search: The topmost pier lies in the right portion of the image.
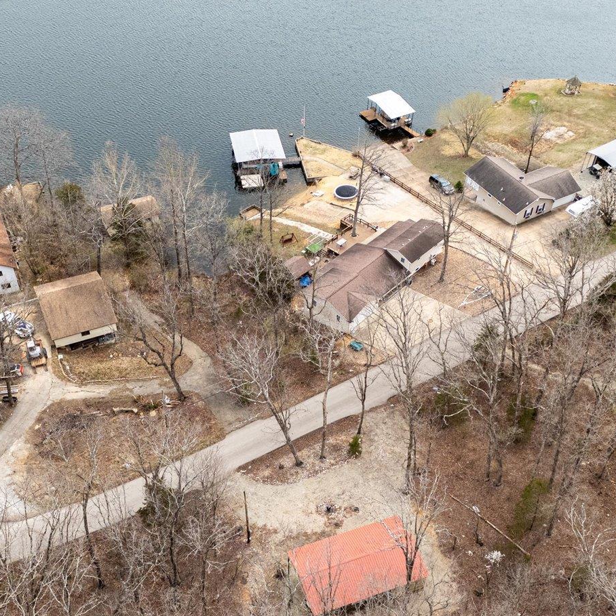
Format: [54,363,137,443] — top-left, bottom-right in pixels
[359,91,422,139]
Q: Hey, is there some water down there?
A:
Yes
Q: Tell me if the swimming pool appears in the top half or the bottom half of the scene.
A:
top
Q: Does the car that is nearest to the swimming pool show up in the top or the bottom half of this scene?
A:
top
